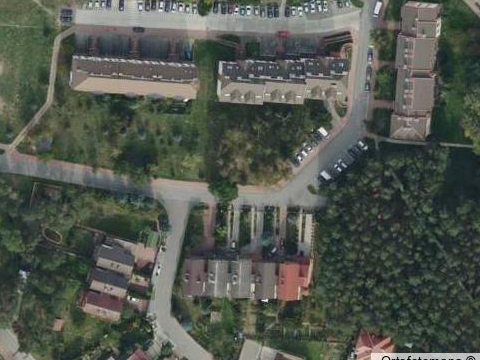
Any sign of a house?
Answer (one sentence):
Yes, a house appears in the view.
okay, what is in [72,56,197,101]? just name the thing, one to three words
building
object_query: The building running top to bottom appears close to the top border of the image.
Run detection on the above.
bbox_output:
[390,1,443,140]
